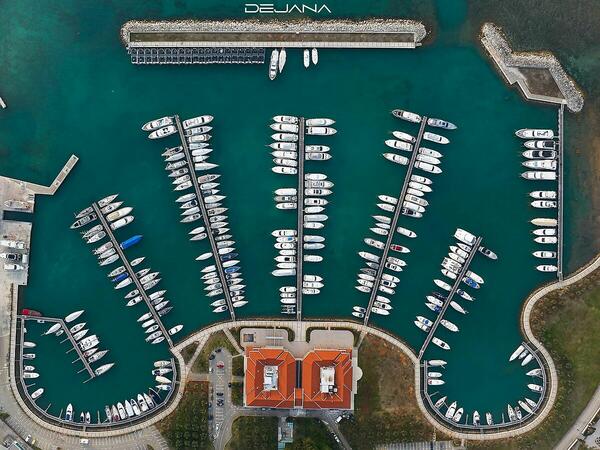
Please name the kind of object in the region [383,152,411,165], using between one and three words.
boat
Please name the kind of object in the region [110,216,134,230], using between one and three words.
boat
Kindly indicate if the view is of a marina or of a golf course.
marina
